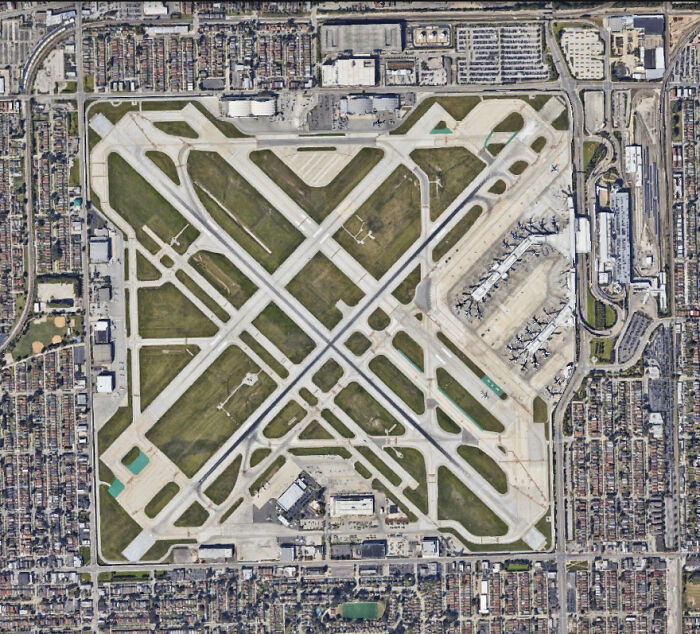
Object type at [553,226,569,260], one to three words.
building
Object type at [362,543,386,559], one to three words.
hangar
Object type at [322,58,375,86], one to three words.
building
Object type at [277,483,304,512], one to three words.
hangar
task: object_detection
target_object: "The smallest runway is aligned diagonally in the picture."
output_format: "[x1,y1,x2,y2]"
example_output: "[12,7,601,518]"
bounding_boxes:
[228,146,405,321]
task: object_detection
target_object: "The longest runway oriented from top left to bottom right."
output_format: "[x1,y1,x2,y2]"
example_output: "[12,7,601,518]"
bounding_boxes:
[123,141,532,542]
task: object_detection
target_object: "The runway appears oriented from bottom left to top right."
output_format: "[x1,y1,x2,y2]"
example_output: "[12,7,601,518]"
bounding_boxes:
[126,153,396,440]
